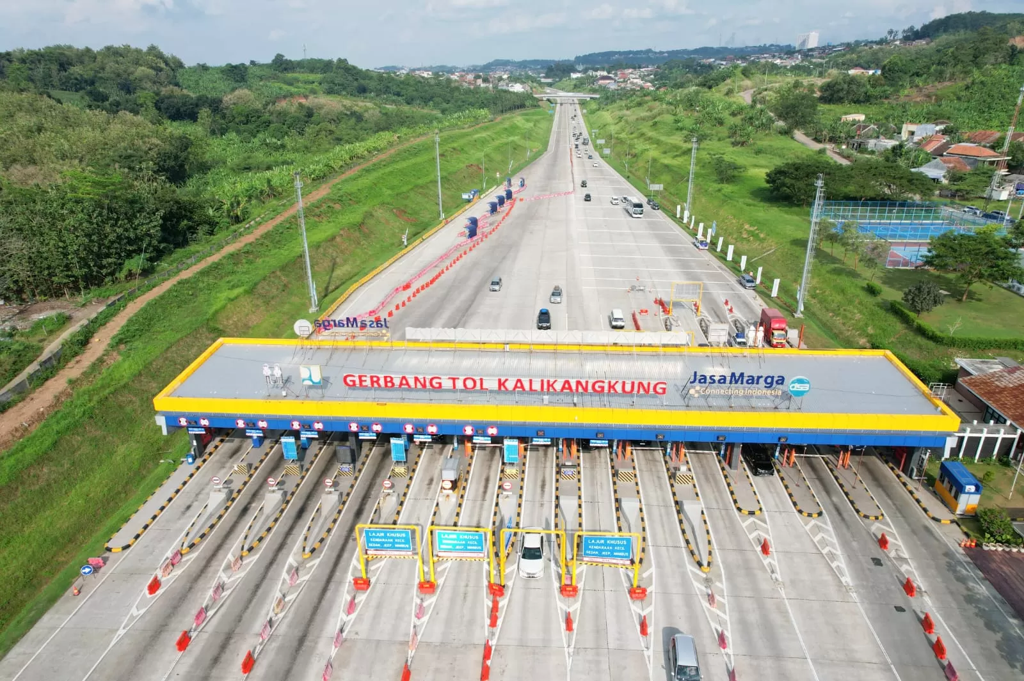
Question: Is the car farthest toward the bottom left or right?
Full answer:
You can find the car farthest toward the bottom on the right side of the picture.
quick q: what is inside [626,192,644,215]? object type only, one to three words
vehicle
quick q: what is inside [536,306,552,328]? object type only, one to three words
car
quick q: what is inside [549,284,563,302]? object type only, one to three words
car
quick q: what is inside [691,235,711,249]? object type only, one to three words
vehicle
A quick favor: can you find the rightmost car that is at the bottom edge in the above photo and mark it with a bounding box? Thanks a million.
[664,622,707,681]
